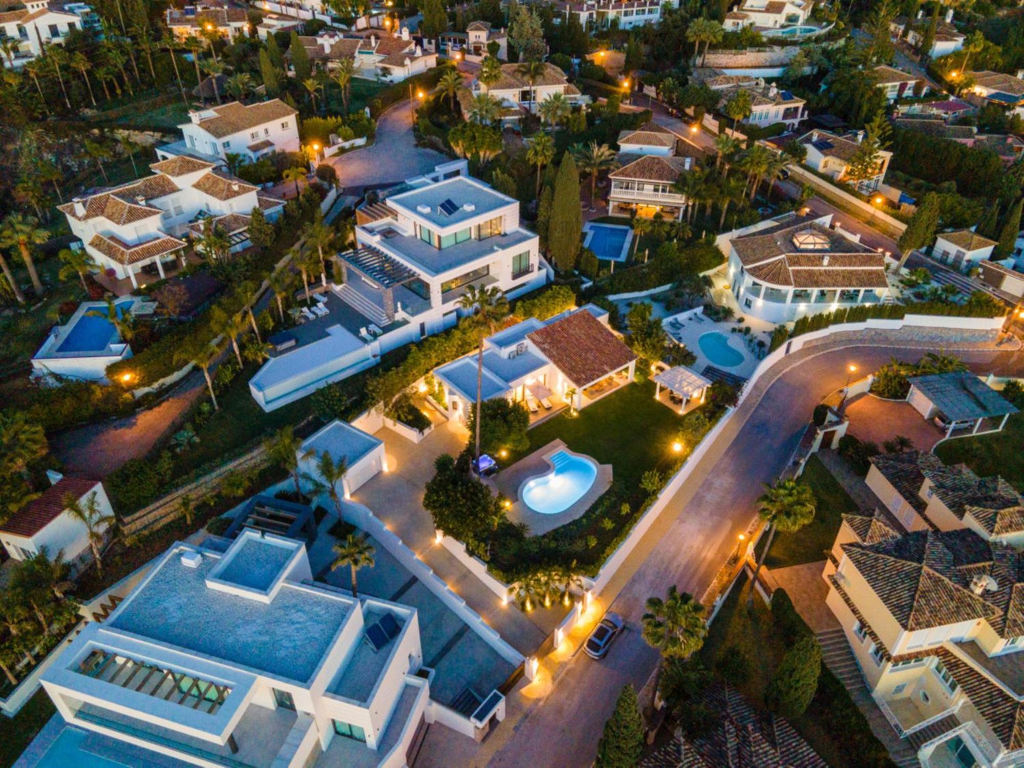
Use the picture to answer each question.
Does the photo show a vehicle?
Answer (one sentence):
Yes, this view includes a vehicle.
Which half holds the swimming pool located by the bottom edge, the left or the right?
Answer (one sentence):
The swimming pool located by the bottom edge appears in the left half of the scene.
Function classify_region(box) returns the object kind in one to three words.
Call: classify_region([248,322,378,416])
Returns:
swimming pool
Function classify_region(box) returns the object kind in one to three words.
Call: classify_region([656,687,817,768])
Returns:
house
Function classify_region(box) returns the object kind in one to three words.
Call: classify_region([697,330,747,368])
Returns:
swimming pool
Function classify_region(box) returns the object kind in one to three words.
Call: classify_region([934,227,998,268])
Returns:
house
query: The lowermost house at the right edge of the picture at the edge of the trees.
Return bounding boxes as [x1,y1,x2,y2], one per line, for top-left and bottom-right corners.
[819,453,1024,768]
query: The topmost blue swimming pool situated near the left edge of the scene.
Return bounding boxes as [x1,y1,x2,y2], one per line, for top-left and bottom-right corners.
[28,295,158,373]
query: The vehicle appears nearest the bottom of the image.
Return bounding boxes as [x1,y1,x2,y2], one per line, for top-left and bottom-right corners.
[589,617,630,662]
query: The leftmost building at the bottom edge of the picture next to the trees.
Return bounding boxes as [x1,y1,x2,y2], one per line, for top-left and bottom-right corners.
[33,526,435,768]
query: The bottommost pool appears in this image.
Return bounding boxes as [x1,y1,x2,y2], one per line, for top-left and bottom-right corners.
[11,720,187,768]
